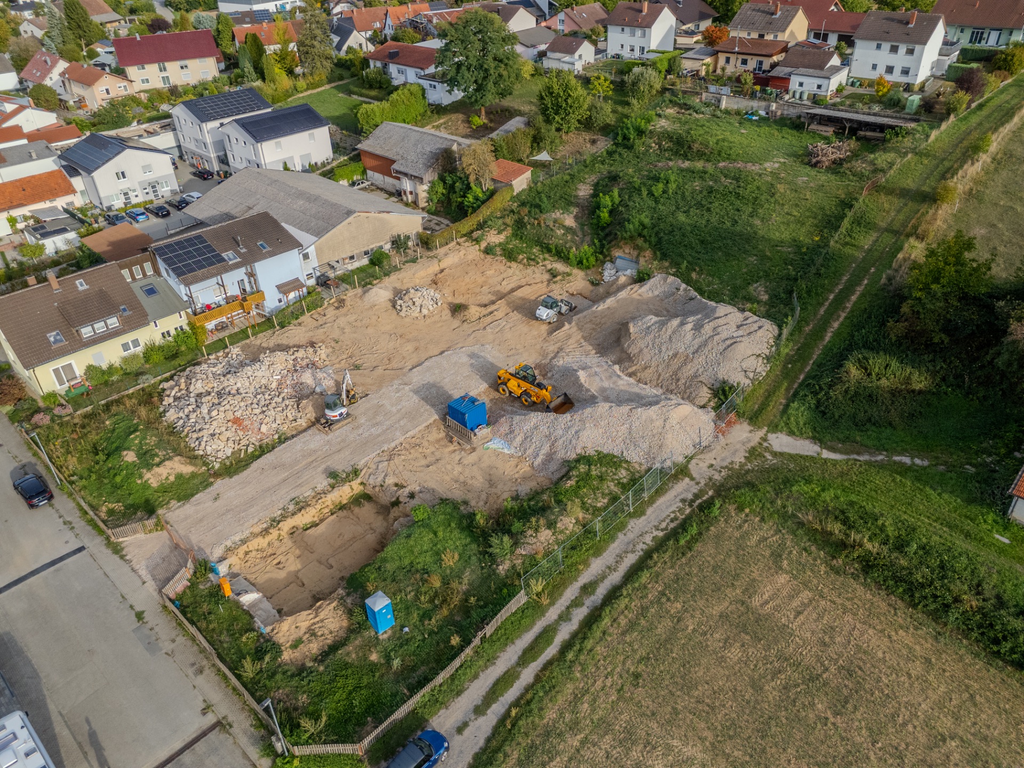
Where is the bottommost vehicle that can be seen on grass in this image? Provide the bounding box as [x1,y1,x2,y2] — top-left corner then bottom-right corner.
[387,733,453,768]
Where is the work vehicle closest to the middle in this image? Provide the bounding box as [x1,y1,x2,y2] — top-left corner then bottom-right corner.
[493,362,571,414]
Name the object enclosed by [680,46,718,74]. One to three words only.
shed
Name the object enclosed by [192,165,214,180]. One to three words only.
car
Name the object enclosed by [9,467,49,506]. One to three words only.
car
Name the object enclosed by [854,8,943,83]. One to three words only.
house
